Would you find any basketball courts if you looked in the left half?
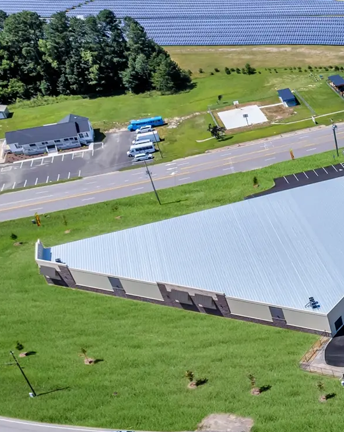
No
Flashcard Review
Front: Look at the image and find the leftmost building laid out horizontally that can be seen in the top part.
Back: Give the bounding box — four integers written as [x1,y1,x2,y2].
[0,119,76,156]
